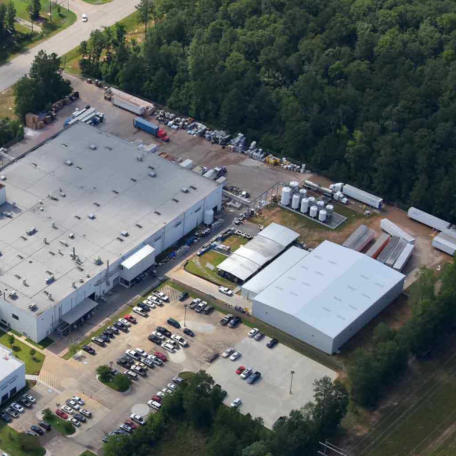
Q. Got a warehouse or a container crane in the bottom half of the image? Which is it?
warehouse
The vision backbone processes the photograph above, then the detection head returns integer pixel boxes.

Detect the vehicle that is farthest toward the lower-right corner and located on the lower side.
[271,413,288,426]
